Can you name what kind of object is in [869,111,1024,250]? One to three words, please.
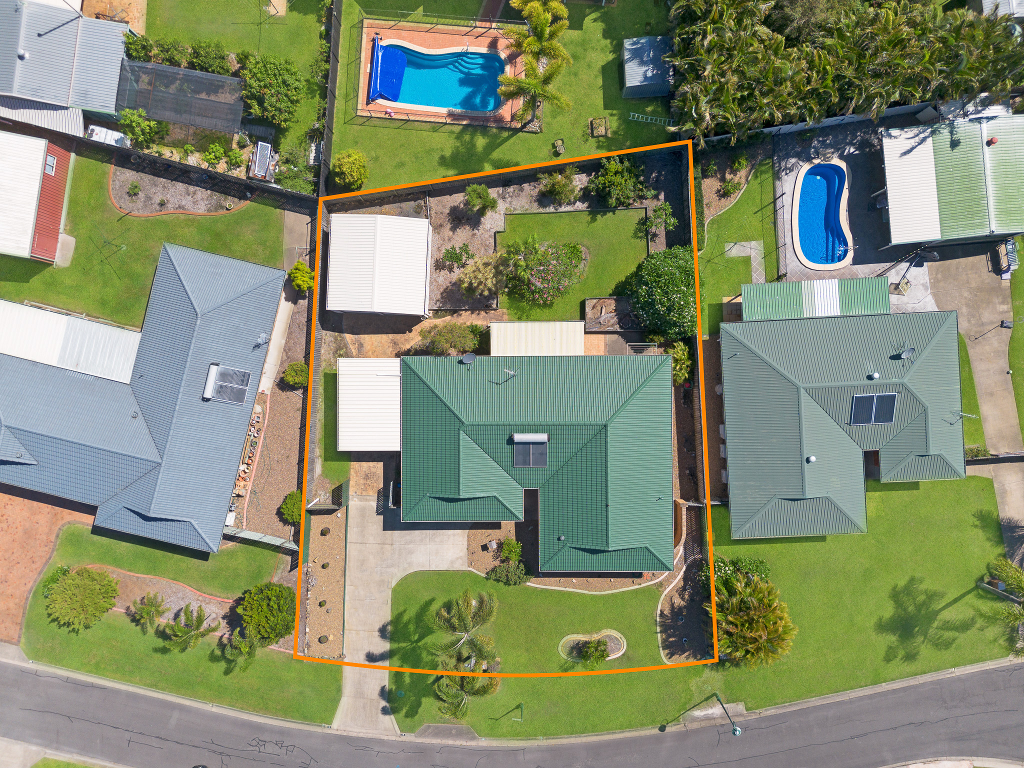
shed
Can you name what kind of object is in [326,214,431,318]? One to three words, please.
building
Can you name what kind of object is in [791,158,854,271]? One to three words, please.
swimming pool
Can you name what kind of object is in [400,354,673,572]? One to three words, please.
building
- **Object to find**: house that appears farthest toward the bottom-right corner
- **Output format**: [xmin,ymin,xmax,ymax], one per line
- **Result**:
[717,309,968,542]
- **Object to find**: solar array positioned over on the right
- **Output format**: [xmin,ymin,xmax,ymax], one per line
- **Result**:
[852,393,898,426]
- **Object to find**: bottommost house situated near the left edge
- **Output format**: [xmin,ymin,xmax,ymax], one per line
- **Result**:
[0,241,288,555]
